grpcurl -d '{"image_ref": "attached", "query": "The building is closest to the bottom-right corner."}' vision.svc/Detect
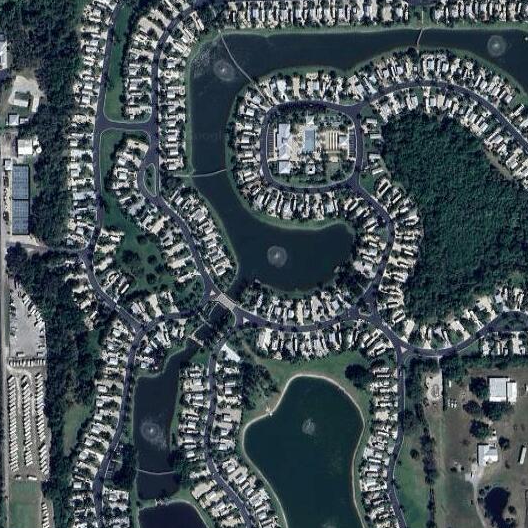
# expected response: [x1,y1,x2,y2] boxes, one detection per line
[478,443,498,465]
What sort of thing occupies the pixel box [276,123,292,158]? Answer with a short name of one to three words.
building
